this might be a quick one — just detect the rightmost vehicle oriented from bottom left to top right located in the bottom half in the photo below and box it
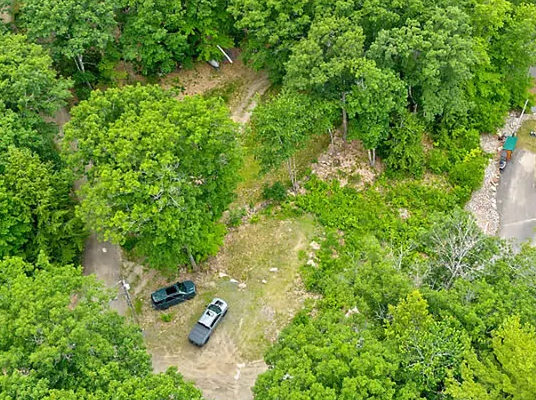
[187,298,229,349]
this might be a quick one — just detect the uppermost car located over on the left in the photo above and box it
[150,281,197,309]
